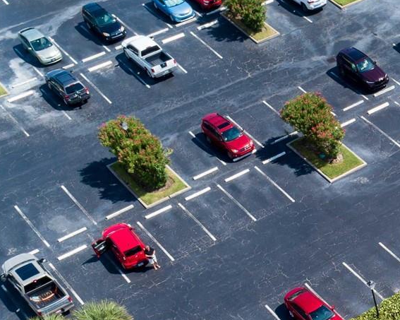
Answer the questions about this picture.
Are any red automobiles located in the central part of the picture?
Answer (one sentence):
Yes, you'll find a red automobile in the central part of the picture.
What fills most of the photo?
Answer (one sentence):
The scene is dominated by paved ground.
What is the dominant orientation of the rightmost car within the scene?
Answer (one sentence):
The rightmost car runs on a diagonal in the image.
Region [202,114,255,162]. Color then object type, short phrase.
red car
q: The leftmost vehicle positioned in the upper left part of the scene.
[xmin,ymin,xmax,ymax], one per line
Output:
[19,30,62,66]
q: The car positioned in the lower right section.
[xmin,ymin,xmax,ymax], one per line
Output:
[281,286,337,320]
